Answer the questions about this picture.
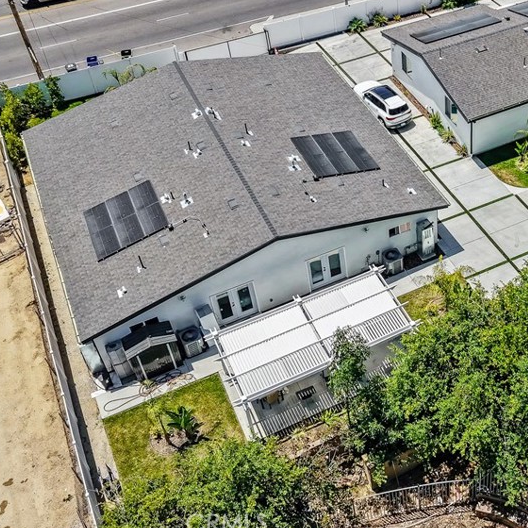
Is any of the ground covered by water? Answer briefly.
No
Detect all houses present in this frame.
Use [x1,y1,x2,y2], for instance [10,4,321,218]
[379,2,528,155]
[19,53,452,371]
